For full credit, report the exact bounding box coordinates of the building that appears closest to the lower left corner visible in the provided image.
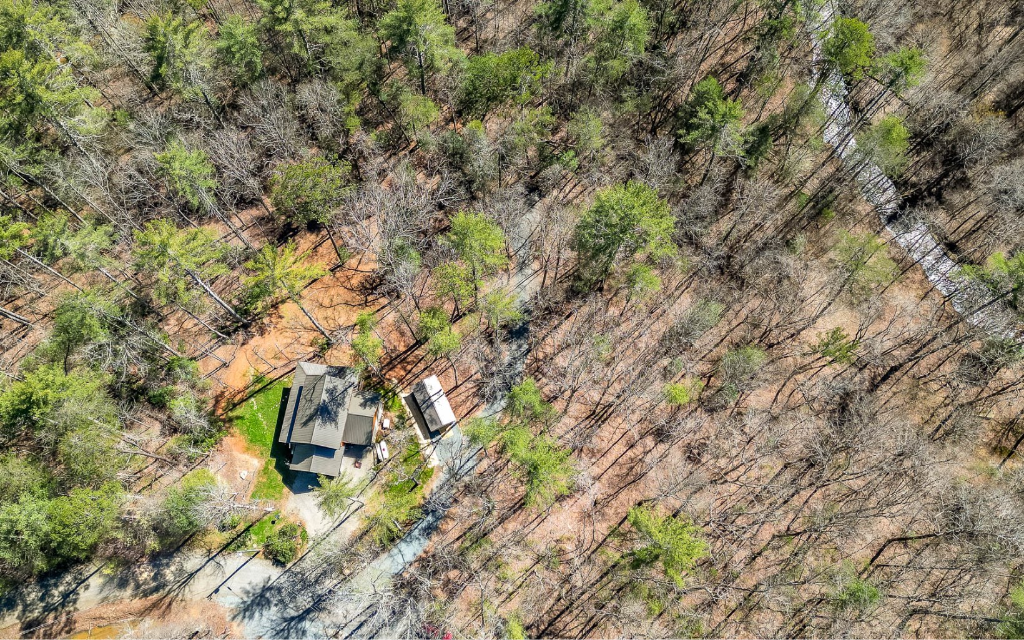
[279,360,381,477]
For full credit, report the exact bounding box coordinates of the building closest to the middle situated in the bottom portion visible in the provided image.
[405,376,456,445]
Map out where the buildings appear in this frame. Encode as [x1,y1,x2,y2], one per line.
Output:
[405,376,456,445]
[279,360,381,477]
